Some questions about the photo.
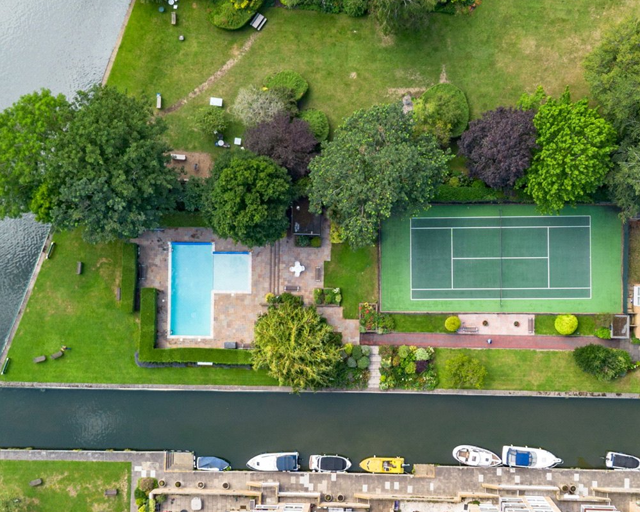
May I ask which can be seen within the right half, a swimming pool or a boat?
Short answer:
boat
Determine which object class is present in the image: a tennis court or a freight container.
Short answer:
tennis court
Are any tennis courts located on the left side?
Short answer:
No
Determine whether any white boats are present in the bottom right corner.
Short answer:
Yes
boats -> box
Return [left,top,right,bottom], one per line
[308,455,350,473]
[360,457,408,474]
[246,452,302,472]
[604,451,640,468]
[195,454,229,471]
[453,445,502,466]
[502,445,562,468]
